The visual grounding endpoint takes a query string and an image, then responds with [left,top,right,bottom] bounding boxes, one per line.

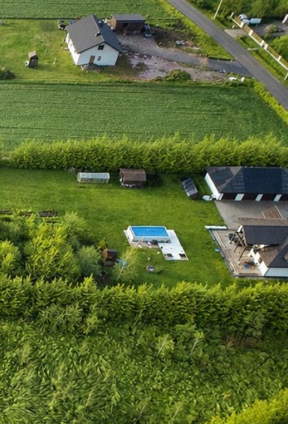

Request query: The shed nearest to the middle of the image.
[117,168,151,187]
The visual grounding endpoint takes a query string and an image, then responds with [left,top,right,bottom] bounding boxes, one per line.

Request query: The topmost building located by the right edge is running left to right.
[196,168,288,202]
